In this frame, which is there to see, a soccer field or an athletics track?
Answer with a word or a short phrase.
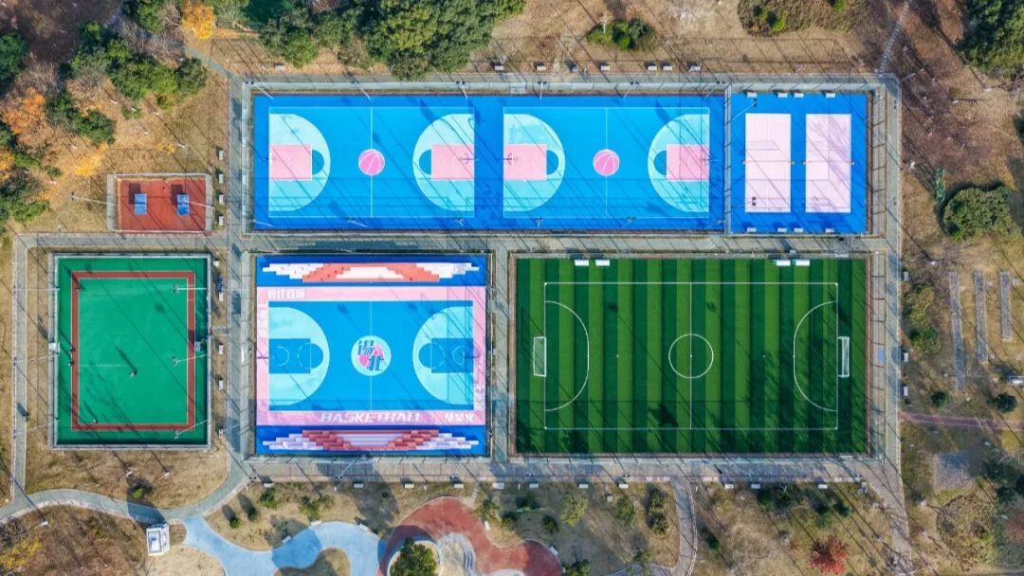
soccer field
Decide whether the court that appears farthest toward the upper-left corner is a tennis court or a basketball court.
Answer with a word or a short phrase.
tennis court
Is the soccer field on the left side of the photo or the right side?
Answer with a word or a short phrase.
right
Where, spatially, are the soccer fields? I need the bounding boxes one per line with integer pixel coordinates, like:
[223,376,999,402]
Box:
[517,259,867,454]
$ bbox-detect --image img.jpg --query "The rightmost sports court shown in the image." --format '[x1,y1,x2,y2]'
[799,93,867,231]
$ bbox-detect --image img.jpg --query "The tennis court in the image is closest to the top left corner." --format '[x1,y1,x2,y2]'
[106,174,213,232]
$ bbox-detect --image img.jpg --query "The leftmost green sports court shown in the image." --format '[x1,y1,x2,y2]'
[50,254,210,448]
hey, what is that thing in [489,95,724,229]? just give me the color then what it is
blue basketball court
